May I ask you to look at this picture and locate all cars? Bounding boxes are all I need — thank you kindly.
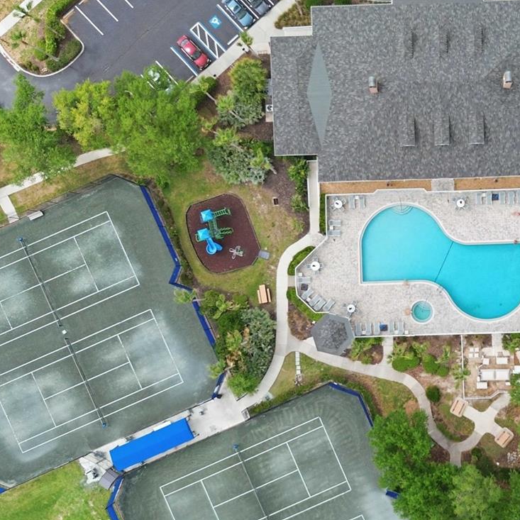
[174,33,208,68]
[221,0,252,27]
[141,59,161,86]
[246,0,268,14]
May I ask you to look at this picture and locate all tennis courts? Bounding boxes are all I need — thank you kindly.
[0,181,221,395]
[116,475,235,520]
[0,304,211,483]
[131,387,408,520]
